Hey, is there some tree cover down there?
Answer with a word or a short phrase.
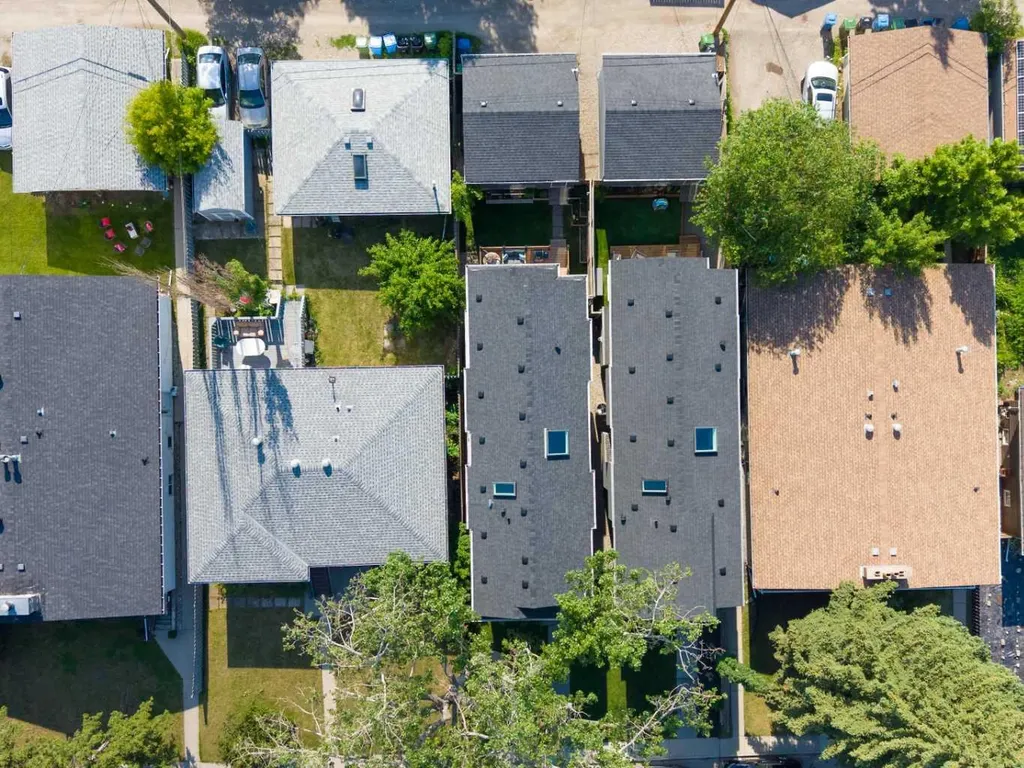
Yes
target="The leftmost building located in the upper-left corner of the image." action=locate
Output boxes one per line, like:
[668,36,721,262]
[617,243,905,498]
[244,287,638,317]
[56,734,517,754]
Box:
[11,25,176,194]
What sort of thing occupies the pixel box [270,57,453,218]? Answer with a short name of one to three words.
building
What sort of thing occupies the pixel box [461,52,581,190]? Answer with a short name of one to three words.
building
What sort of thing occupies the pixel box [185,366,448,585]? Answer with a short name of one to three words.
house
